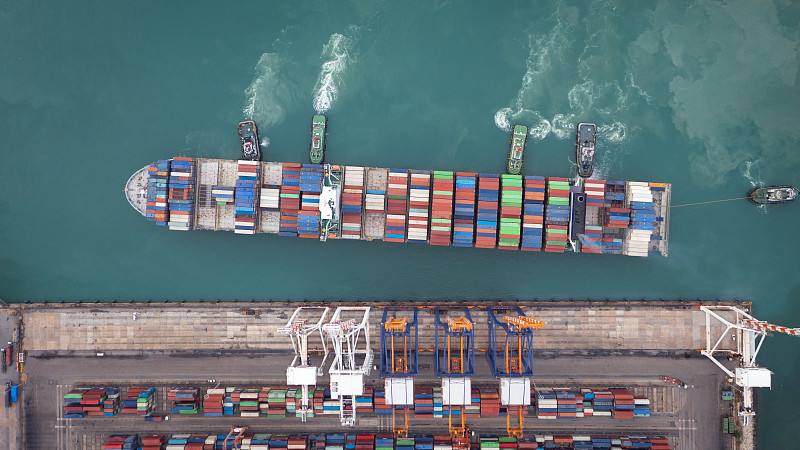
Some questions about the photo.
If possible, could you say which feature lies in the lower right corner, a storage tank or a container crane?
container crane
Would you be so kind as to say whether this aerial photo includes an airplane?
No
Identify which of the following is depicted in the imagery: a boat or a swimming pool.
boat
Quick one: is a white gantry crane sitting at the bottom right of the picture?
Yes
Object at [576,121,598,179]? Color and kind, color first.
gray boat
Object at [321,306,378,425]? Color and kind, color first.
white container crane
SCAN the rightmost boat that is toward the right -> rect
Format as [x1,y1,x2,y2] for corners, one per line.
[748,185,800,205]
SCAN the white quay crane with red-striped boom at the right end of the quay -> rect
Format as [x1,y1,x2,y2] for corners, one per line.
[691,306,800,426]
